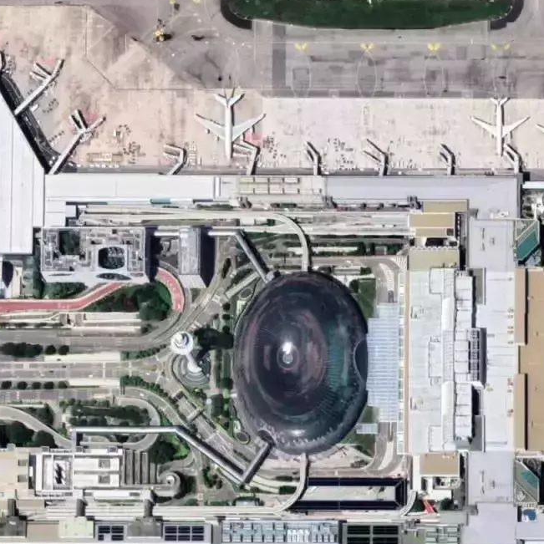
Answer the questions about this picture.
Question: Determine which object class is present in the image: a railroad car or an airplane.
airplane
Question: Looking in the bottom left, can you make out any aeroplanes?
No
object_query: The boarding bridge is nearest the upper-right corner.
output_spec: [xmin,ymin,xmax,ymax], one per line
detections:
[502,143,520,176]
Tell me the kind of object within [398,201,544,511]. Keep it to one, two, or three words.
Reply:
building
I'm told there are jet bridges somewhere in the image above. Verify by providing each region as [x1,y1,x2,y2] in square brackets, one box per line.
[305,141,321,176]
[15,59,66,116]
[162,145,185,175]
[362,139,389,176]
[49,108,107,175]
[438,142,453,176]
[232,140,258,176]
[502,143,520,176]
